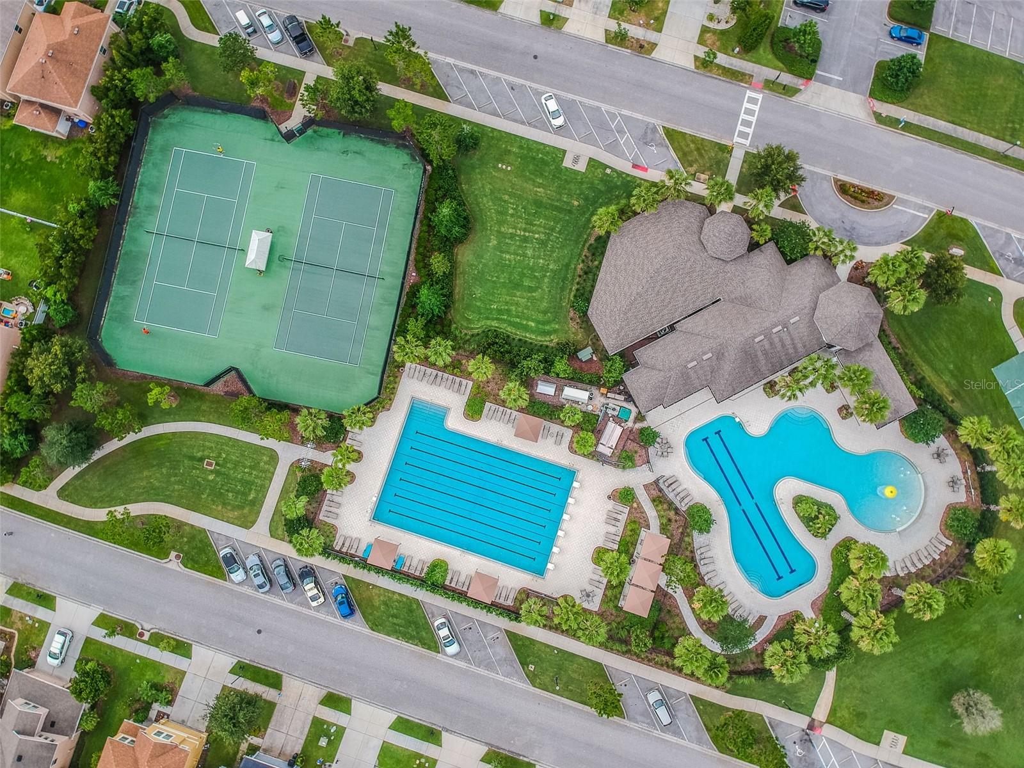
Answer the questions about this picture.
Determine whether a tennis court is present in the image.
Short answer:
Yes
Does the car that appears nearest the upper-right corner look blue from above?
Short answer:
Yes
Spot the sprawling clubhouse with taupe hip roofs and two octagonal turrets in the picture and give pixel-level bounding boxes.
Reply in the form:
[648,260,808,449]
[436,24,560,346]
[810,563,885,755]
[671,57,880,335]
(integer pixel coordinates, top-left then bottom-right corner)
[588,201,918,431]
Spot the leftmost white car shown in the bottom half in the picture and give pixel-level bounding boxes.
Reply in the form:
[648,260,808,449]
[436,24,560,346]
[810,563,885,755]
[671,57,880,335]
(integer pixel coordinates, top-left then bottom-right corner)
[46,626,74,667]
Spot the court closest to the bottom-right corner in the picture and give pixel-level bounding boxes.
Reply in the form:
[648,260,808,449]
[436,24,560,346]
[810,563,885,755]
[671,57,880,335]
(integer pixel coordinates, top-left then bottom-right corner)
[992,354,1024,429]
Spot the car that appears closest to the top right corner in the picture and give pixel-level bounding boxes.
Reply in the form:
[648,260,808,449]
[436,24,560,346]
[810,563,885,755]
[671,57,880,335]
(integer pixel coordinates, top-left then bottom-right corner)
[887,24,928,48]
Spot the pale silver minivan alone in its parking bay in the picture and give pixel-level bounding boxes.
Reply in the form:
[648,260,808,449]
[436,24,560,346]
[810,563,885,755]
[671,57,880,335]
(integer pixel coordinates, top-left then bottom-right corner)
[645,687,674,729]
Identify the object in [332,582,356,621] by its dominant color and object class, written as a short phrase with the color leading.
blue car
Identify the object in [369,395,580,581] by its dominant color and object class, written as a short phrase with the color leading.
blue swimming pool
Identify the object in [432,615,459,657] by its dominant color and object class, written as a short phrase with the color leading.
white car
